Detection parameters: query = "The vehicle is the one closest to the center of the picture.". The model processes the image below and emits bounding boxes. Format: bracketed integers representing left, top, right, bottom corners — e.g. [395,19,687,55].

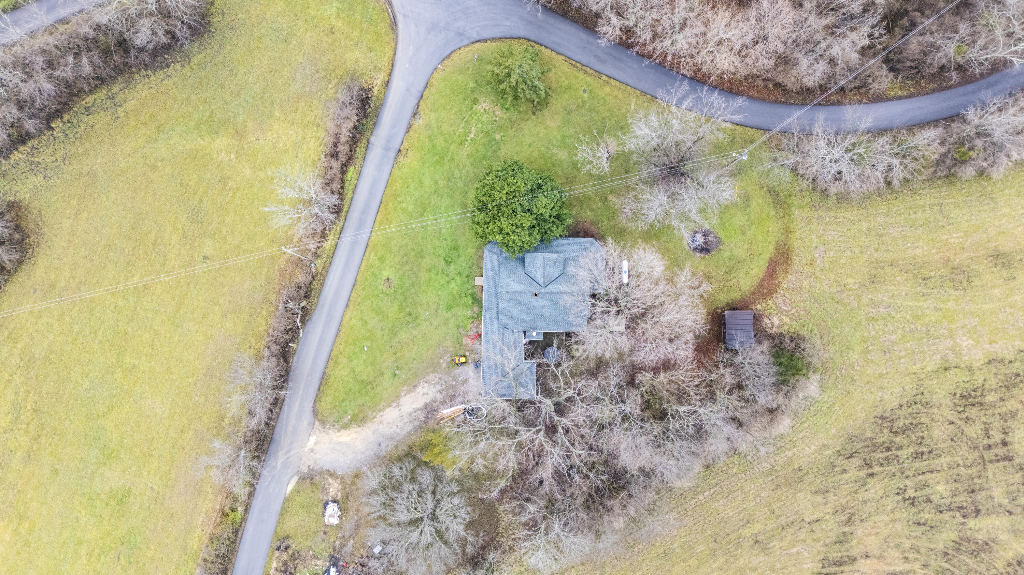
[452,355,466,367]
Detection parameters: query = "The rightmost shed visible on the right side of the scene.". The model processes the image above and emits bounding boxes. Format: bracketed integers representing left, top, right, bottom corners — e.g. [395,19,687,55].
[720,311,754,349]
